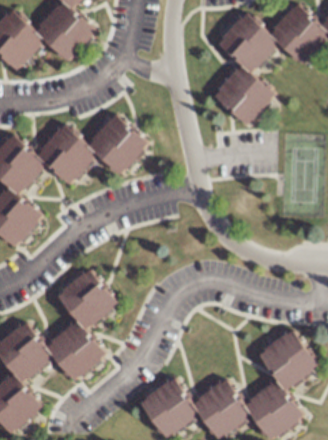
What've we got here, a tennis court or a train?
tennis court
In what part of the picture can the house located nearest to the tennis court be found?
top right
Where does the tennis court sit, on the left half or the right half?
right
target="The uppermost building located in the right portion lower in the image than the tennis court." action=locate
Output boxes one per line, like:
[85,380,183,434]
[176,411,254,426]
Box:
[260,331,317,389]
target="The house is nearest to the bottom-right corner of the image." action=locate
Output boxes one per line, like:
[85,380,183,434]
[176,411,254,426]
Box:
[246,382,302,439]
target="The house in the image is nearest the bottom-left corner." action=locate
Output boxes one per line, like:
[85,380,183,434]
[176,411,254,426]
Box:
[0,374,40,432]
